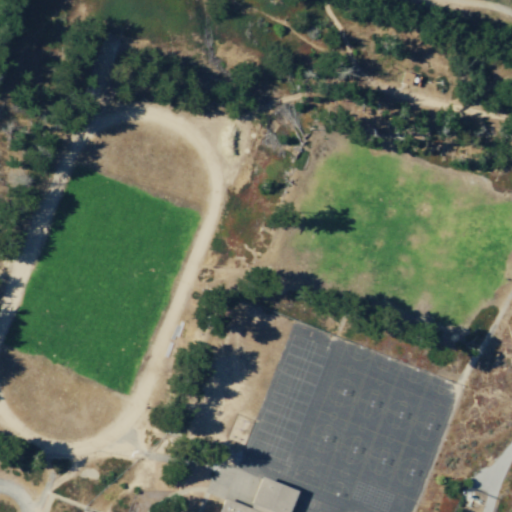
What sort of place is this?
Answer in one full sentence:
It's a sports ground.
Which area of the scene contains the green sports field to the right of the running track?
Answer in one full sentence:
The green sports field to the right of the running track is located in the right region of the scene.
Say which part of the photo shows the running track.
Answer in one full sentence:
You can find the running track in the left area of the picture.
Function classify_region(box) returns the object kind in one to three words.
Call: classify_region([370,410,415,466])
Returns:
basketball court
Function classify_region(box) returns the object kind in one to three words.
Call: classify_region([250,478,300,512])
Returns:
building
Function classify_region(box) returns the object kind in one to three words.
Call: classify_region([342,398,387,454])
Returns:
basketball court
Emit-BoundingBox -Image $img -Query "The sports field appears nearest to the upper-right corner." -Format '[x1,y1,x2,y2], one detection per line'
[288,140,512,327]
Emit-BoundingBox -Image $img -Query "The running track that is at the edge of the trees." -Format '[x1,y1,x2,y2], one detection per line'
[0,97,224,463]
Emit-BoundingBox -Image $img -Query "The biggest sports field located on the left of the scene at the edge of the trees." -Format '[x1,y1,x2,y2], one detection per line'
[8,170,201,395]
